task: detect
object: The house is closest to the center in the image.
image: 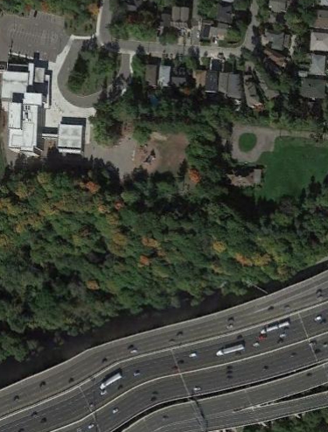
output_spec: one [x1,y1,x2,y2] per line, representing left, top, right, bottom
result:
[228,172,255,187]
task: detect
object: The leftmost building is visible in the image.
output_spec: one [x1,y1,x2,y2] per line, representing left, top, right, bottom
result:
[1,63,85,155]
